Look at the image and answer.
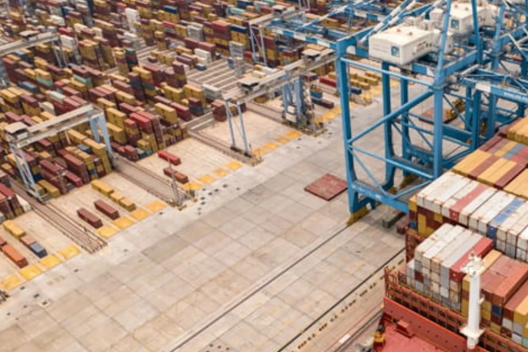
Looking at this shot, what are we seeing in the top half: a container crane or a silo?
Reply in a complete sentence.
You can see a container crane in the top half.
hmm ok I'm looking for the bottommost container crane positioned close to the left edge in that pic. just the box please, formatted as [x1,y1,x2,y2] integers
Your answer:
[4,105,128,206]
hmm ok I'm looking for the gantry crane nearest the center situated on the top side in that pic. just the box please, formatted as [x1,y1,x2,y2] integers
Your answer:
[221,71,310,160]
